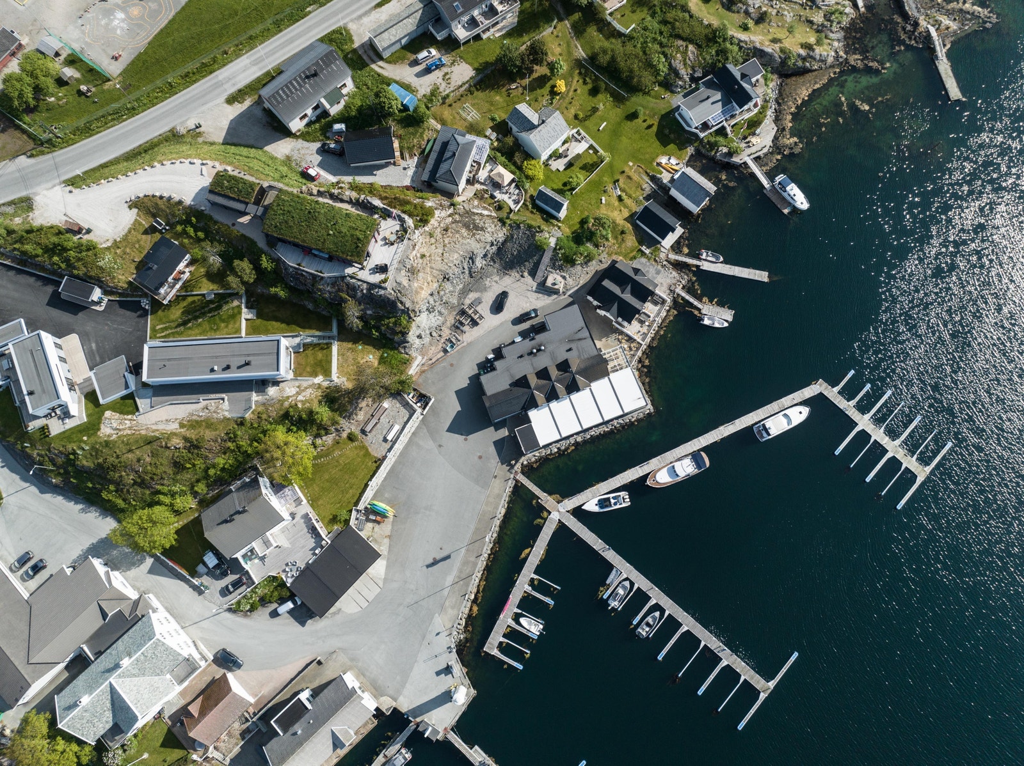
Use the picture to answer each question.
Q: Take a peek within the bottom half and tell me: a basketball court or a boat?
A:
boat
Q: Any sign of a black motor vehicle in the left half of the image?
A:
Yes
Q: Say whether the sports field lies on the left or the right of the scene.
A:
left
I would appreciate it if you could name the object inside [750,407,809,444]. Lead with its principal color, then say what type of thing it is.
white boat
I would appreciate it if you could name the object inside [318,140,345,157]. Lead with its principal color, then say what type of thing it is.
black car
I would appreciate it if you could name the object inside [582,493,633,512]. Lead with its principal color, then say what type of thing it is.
white boat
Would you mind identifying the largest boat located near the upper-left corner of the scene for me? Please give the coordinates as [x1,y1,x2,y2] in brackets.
[78,85,96,98]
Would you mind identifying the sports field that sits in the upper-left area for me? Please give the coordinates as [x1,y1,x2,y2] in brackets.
[116,0,299,89]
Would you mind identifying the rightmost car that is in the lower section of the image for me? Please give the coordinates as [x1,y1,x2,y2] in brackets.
[271,595,304,619]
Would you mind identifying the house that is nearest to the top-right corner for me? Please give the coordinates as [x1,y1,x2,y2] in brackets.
[674,57,765,143]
